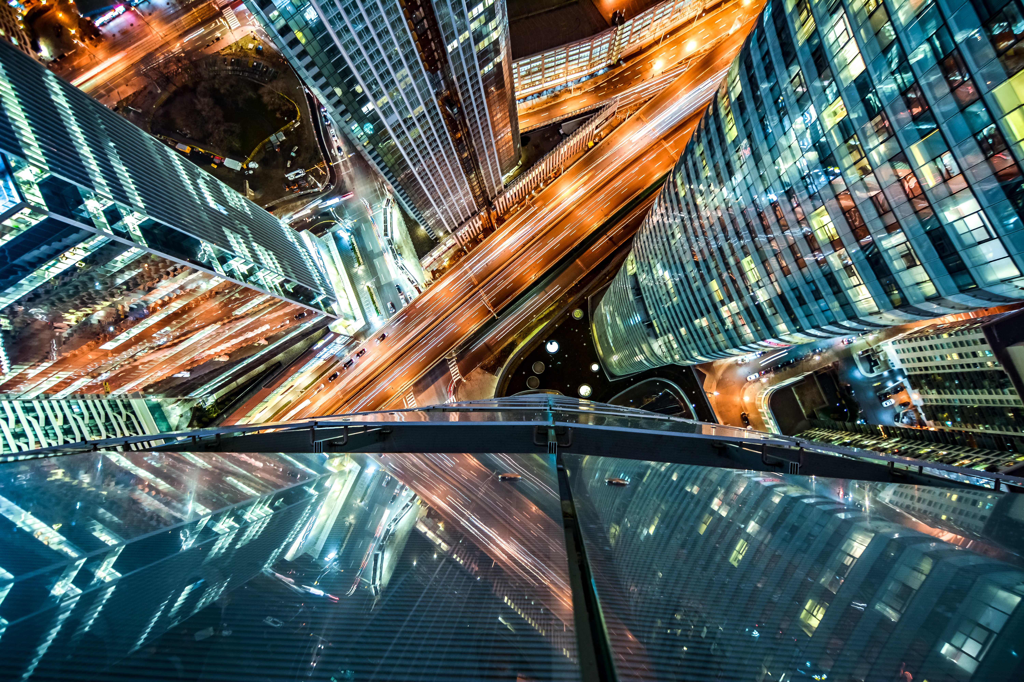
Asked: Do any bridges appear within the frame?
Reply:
Yes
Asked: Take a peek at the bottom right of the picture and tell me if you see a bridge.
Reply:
No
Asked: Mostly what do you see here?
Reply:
buildings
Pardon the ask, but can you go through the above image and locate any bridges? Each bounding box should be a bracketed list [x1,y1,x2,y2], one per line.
[267,8,763,422]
